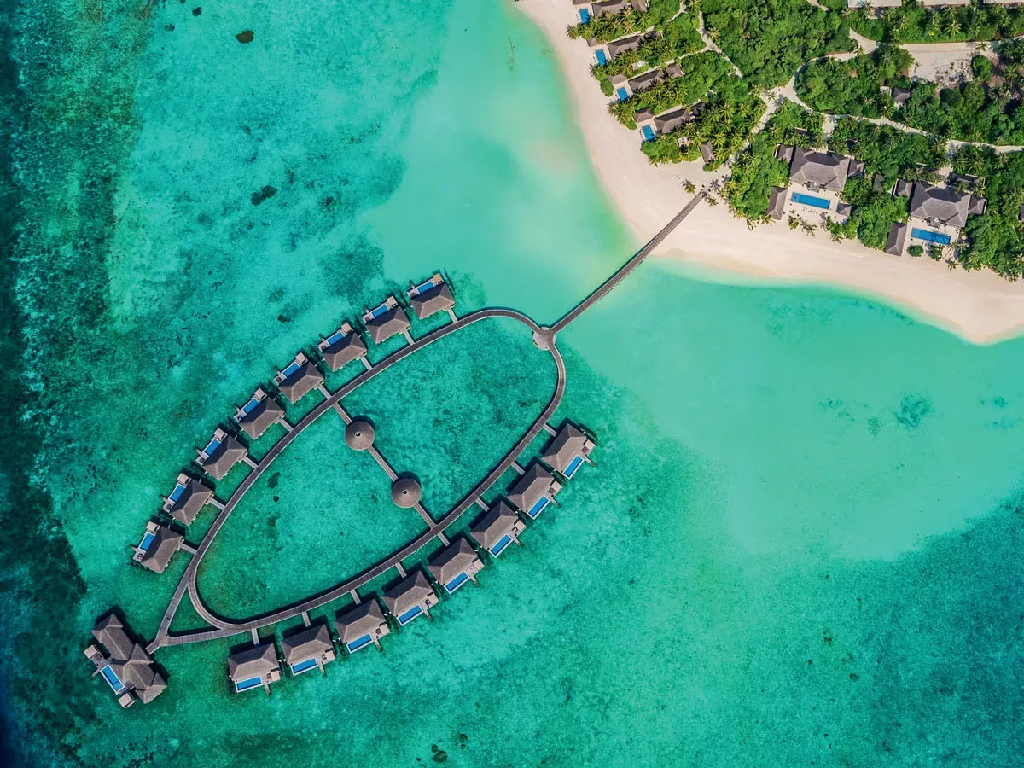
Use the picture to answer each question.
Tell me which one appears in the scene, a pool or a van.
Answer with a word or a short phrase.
pool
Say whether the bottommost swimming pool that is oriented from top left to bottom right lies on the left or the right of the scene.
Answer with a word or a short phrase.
left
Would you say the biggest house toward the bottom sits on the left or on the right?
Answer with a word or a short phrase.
left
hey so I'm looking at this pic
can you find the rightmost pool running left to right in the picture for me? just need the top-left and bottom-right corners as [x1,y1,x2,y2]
[910,225,952,244]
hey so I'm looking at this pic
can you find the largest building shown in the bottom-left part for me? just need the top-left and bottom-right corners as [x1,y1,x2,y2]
[84,612,168,707]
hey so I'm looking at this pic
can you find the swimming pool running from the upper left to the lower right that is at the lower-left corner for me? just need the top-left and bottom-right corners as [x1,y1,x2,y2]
[101,664,126,693]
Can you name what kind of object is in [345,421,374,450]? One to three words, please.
building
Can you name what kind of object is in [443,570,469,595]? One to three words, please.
swimming pool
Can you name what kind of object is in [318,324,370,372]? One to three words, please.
house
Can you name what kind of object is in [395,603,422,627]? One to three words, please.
swimming pool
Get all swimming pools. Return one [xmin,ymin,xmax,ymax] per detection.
[443,570,469,595]
[595,49,607,66]
[290,657,318,677]
[487,533,511,558]
[328,332,347,347]
[579,8,590,24]
[283,362,303,379]
[560,454,582,479]
[616,86,630,101]
[243,398,263,416]
[525,495,548,520]
[395,603,422,627]
[140,531,158,552]
[101,664,126,693]
[235,675,263,694]
[346,632,373,654]
[205,438,223,457]
[417,282,436,296]
[371,305,391,320]
[910,225,952,244]
[642,124,655,141]
[171,482,189,502]
[790,191,831,210]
